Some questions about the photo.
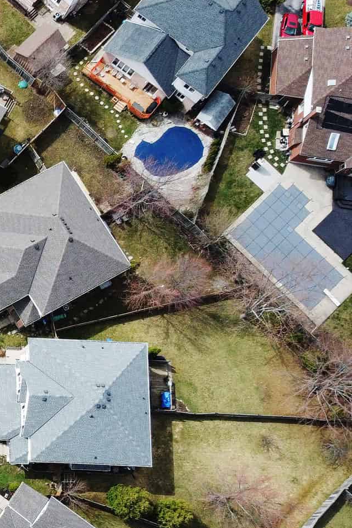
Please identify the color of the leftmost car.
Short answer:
red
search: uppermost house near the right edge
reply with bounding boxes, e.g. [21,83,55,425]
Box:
[265,14,352,174]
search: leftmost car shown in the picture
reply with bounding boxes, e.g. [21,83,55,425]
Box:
[279,11,301,39]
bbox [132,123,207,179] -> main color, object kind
blue swimming pool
